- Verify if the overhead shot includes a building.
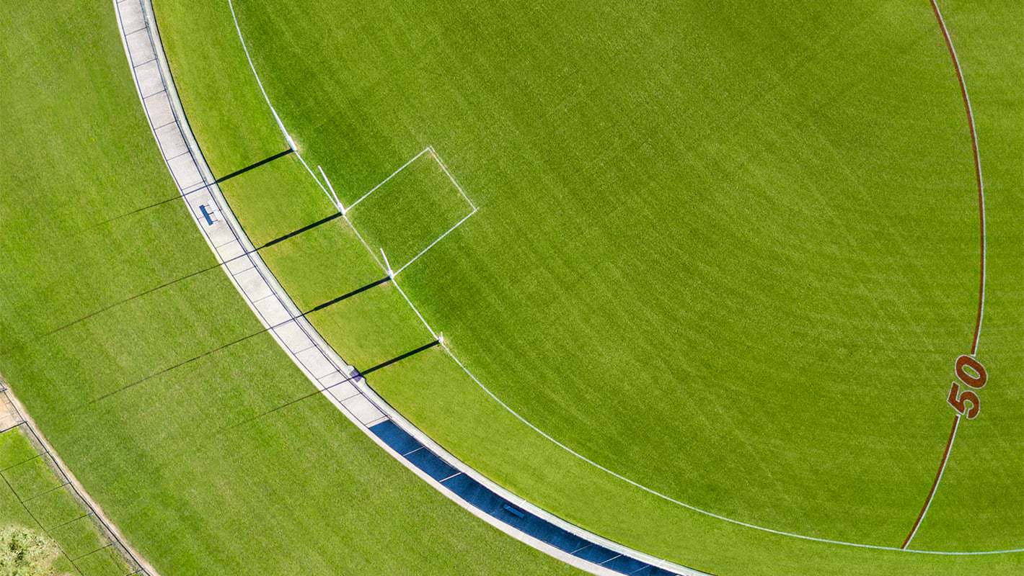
No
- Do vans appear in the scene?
No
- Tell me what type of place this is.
sports ground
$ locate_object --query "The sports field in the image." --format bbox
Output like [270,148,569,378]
[229,0,1024,554]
